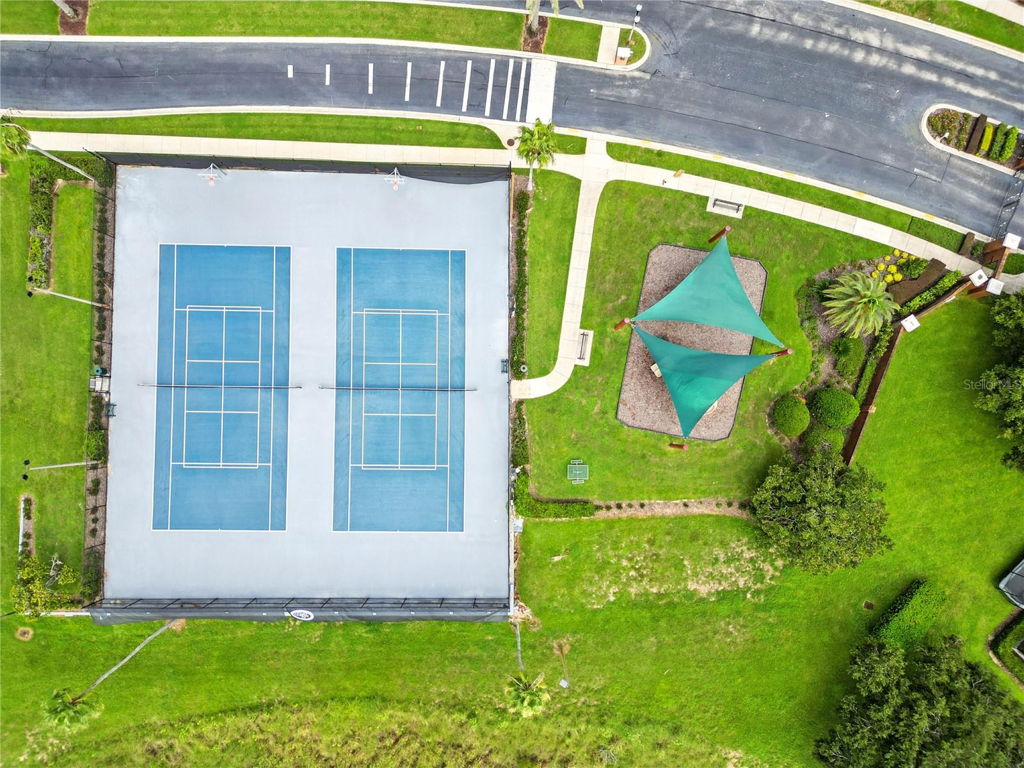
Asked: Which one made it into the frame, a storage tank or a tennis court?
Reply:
tennis court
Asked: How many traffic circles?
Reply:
0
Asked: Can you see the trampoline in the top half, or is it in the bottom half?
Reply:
bottom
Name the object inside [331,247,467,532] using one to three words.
tennis court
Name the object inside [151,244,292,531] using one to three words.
tennis court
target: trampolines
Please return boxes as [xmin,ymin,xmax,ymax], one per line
[989,548,1024,611]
